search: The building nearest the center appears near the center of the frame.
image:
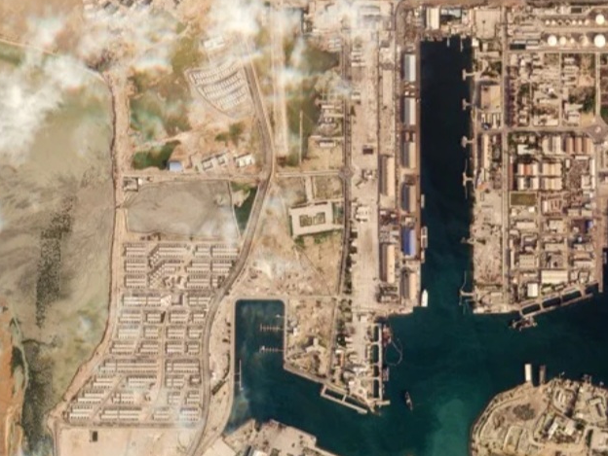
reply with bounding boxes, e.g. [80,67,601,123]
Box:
[291,204,332,233]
